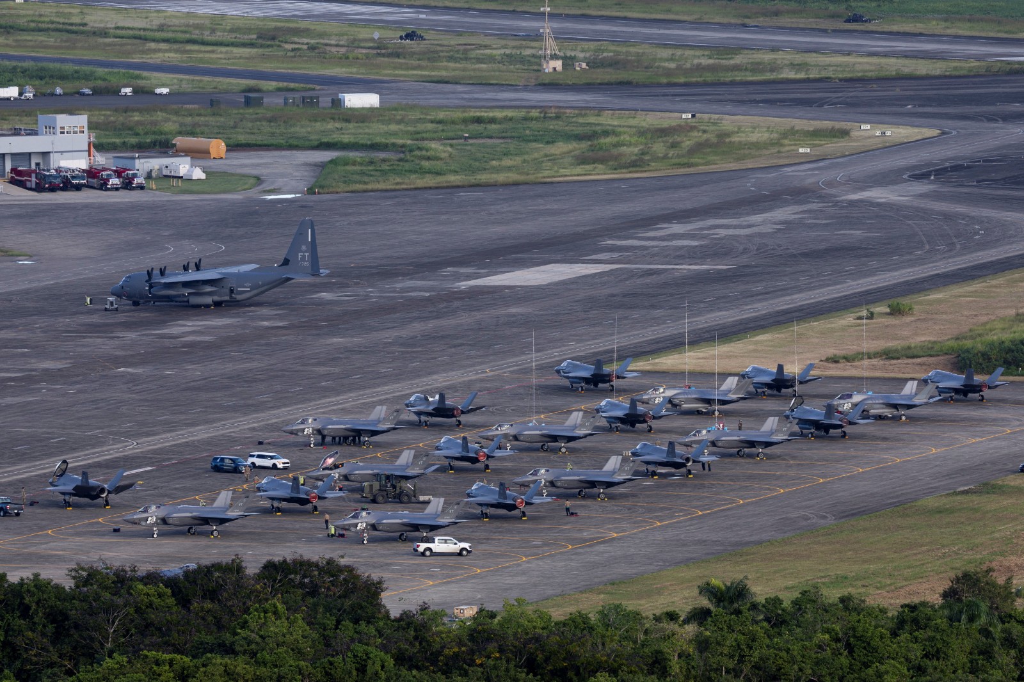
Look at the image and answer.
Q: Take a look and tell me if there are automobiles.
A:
Yes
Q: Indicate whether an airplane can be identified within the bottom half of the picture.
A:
Yes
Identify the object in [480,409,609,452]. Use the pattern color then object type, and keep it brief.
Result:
gray airplane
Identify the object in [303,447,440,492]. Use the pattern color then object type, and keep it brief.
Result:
gray airplane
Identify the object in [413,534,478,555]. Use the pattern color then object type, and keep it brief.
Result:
white truck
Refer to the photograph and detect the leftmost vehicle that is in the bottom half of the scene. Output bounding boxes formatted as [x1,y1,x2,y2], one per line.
[0,495,24,515]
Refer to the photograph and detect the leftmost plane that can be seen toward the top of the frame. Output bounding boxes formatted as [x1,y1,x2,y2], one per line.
[110,219,336,307]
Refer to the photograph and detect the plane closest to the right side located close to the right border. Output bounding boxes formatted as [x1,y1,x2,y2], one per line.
[924,365,1011,401]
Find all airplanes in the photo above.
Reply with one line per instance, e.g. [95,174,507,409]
[829,379,945,420]
[677,415,806,458]
[783,391,872,438]
[332,494,475,543]
[736,360,823,396]
[554,355,641,391]
[250,472,347,513]
[596,394,677,432]
[480,409,609,452]
[303,447,440,492]
[431,432,517,471]
[403,389,487,427]
[38,456,137,507]
[624,438,720,477]
[282,404,408,447]
[110,219,336,307]
[515,453,648,499]
[924,365,1011,401]
[462,477,555,519]
[120,489,261,538]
